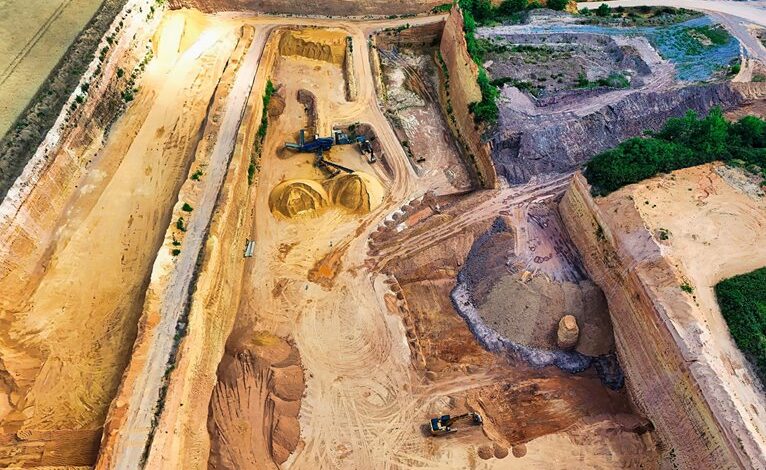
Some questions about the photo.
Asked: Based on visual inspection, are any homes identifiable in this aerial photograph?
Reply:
No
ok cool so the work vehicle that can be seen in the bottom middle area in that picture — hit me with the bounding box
[426,414,482,436]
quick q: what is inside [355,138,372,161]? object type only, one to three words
work vehicle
